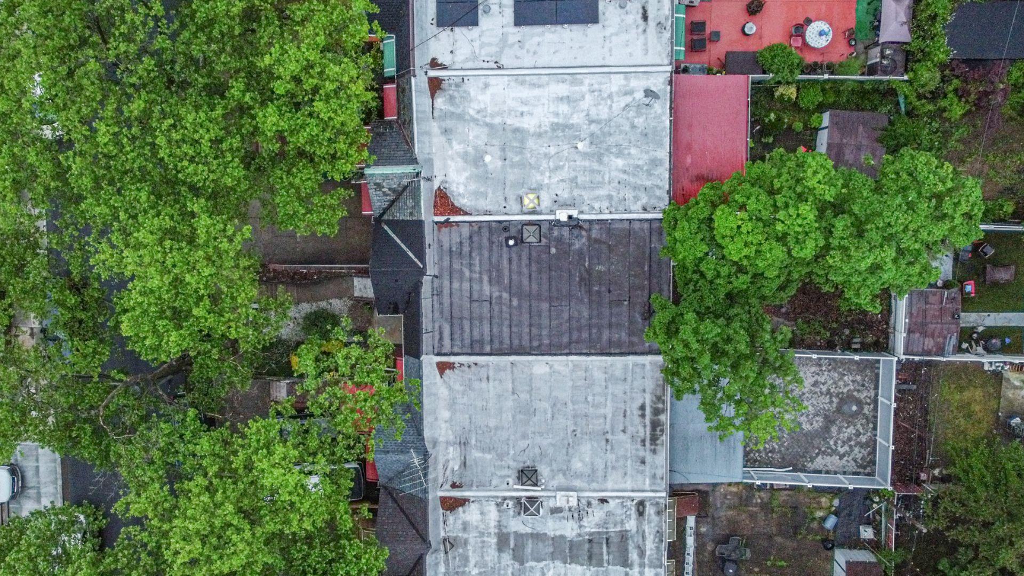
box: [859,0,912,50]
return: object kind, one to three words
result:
gazebo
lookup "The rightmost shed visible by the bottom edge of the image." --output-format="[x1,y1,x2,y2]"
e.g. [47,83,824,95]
[828,540,890,576]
